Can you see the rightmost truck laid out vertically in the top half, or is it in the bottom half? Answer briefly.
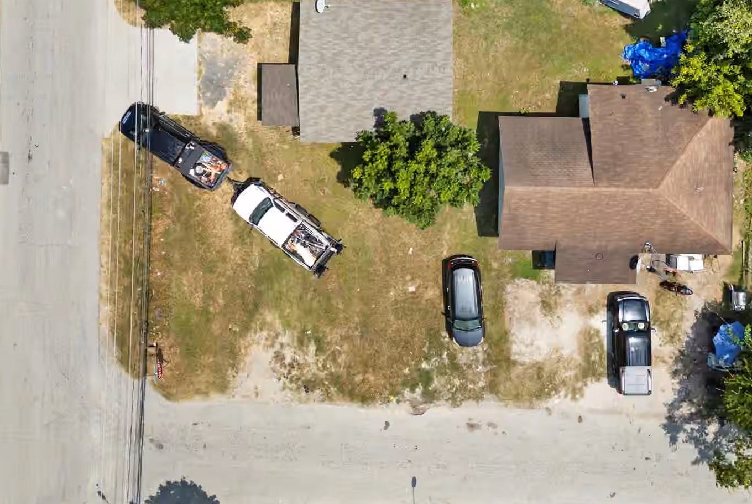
bottom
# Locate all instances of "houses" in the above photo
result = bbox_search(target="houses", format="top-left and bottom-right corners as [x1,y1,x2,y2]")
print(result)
[258,0,456,142]
[497,74,734,284]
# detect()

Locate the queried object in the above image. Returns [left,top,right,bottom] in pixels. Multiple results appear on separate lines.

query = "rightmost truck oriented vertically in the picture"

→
[608,289,656,397]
